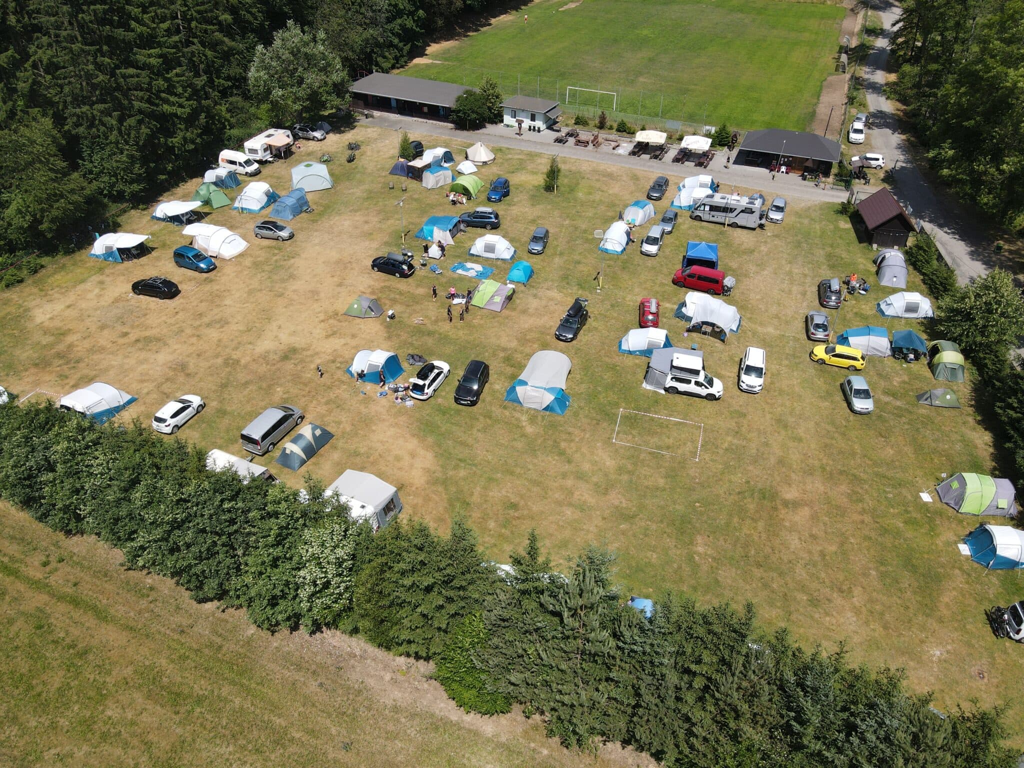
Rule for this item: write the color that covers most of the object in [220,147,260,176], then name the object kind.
white van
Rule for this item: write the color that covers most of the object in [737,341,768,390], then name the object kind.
white car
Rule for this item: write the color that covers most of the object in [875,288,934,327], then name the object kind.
white tent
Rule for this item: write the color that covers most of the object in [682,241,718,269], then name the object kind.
blue gazebo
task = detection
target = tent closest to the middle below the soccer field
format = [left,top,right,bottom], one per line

[506,350,584,414]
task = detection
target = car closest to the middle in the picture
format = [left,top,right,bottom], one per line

[455,354,493,402]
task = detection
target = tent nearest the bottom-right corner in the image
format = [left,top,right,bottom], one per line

[962,518,1024,582]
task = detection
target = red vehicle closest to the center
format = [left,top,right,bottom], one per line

[636,295,660,325]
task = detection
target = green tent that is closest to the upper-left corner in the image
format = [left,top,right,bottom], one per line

[188,181,232,211]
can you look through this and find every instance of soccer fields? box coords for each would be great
[407,0,846,132]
